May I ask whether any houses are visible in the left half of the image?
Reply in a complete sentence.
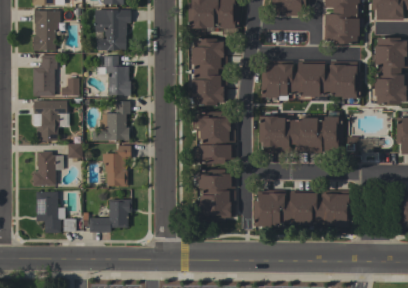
Yes, you'll find a house in the left half of the image.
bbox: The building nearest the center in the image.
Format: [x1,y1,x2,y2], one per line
[198,116,237,166]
